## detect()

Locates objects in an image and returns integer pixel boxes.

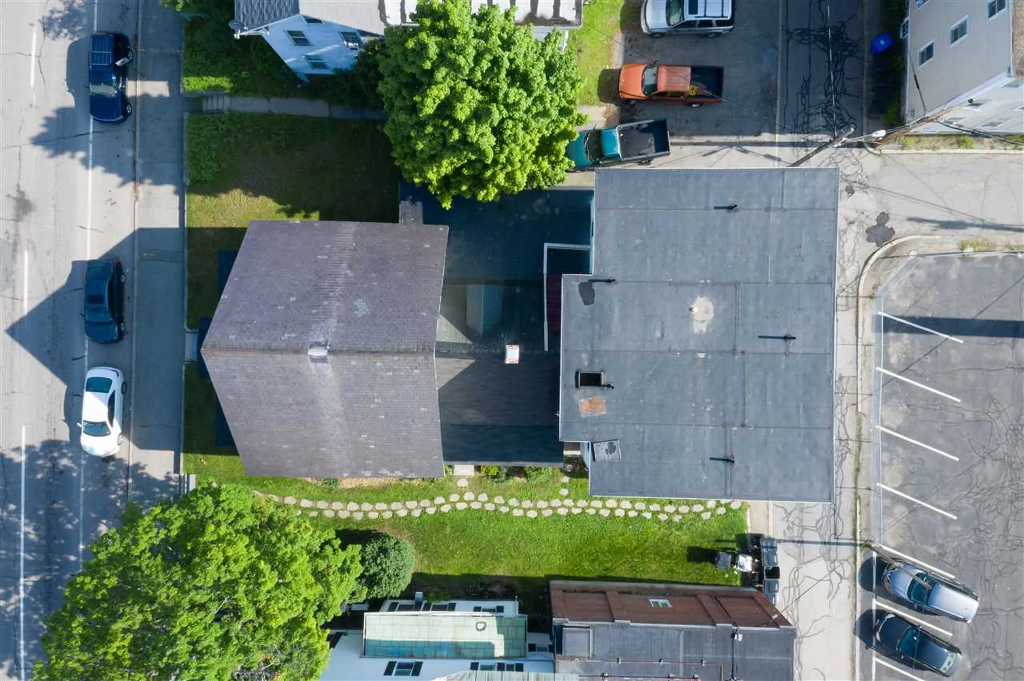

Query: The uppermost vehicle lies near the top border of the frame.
[642,0,732,36]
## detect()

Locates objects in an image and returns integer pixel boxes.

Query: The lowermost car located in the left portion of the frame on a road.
[76,366,124,456]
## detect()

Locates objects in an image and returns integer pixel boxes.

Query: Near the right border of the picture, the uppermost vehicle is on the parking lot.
[883,565,977,623]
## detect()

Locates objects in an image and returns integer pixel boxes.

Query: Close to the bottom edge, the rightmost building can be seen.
[549,578,797,681]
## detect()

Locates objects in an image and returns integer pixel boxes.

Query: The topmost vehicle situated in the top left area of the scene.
[84,34,133,127]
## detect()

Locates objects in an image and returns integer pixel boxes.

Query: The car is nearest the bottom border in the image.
[872,615,963,677]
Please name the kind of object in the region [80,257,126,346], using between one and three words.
car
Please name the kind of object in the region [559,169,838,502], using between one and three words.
building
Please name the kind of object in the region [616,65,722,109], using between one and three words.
truck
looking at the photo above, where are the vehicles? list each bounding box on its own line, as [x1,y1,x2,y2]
[76,366,124,456]
[642,0,732,36]
[80,257,126,346]
[616,65,722,109]
[872,615,963,677]
[883,565,977,623]
[84,34,133,127]
[566,122,670,171]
